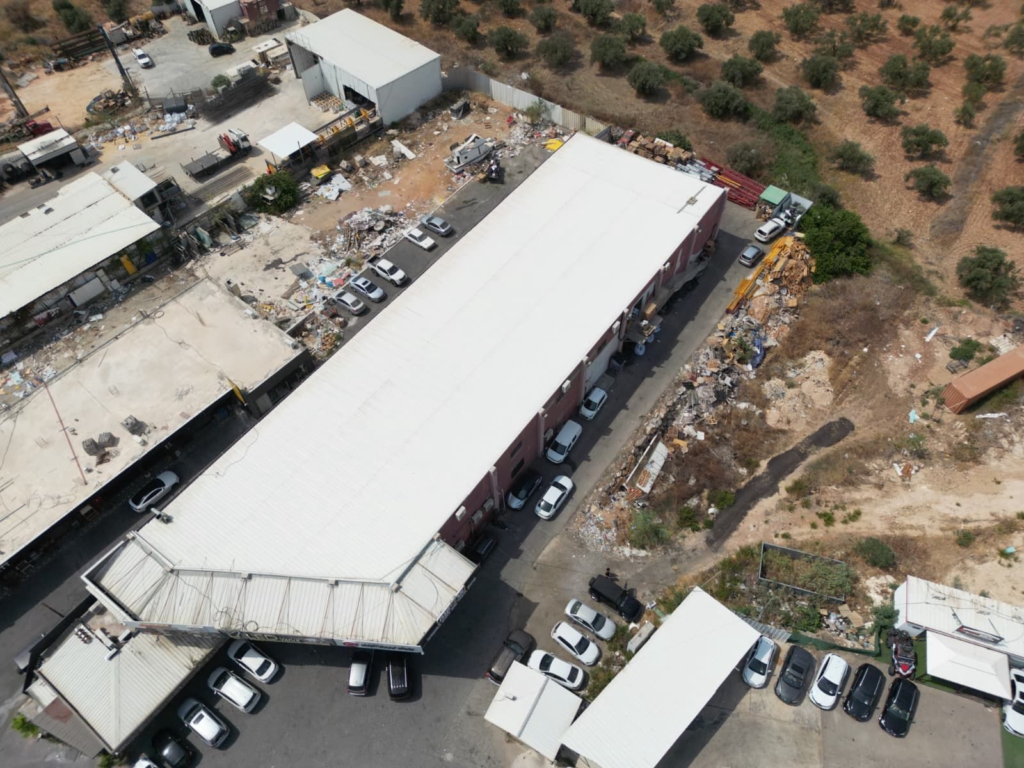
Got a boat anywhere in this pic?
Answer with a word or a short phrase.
Yes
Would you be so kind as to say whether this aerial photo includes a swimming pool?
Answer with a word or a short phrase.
No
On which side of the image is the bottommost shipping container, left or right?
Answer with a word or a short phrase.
right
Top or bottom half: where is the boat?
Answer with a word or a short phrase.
top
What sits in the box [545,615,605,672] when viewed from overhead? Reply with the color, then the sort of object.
white car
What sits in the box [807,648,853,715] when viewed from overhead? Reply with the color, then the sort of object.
white car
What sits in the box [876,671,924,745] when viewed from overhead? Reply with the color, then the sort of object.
black car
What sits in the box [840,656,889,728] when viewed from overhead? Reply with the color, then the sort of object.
black car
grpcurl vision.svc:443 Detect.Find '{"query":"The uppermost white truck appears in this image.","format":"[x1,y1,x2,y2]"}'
[126,45,152,68]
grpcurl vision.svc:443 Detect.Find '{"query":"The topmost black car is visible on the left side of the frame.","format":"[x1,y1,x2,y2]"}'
[206,41,238,58]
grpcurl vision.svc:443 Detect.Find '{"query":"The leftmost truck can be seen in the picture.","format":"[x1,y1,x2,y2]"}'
[0,99,49,154]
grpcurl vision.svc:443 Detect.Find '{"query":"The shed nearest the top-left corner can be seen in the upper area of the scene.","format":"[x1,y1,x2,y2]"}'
[17,129,92,188]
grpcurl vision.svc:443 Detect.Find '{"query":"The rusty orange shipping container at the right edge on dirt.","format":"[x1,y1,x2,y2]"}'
[934,339,1024,412]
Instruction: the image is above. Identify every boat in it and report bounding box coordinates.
[441,127,495,173]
